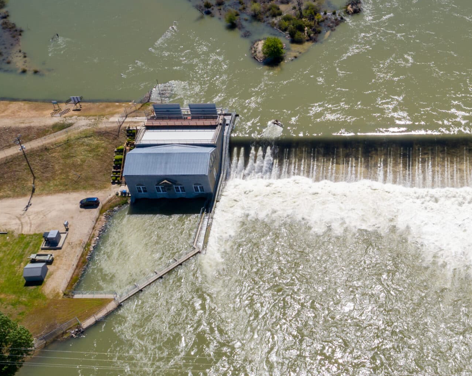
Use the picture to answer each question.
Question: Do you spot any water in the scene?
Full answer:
Yes, the picture does contain water.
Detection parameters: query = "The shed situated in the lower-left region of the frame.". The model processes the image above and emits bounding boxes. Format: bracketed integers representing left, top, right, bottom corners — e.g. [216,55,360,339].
[17,264,53,286]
